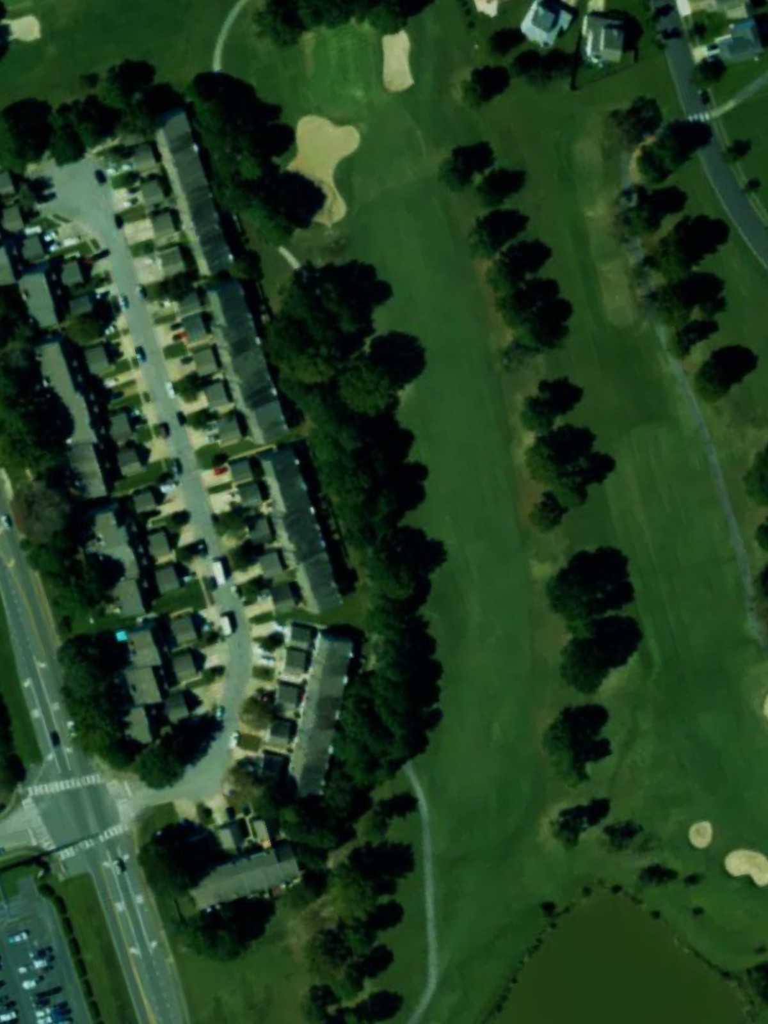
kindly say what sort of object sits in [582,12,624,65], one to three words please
house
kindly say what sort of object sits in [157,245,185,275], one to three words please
building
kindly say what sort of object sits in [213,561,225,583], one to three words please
vehicle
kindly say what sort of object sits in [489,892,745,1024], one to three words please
pond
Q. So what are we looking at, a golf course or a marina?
golf course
